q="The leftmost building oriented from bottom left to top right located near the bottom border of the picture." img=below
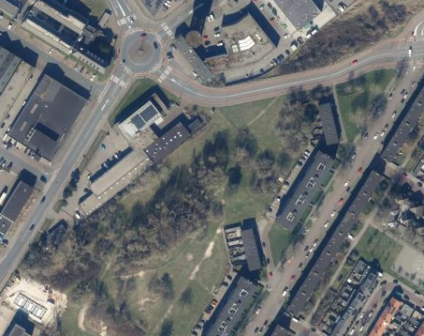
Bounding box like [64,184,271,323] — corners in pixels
[206,275,259,336]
